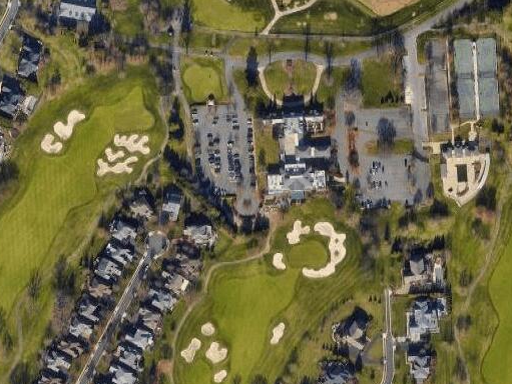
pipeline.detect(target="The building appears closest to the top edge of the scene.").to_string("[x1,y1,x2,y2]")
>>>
[58,0,99,21]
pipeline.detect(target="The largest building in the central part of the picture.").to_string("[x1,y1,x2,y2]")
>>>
[262,106,332,199]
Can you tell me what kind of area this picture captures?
golf course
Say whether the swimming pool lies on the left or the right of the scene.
right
